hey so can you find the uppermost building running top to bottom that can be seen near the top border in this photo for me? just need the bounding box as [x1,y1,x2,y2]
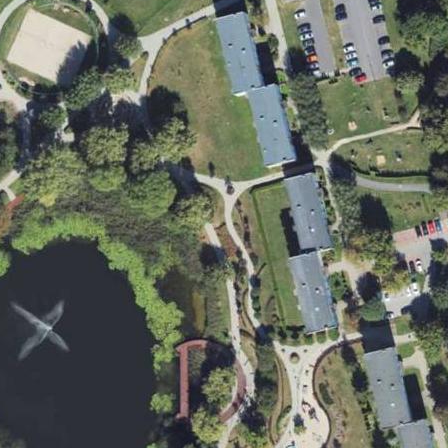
[216,13,263,96]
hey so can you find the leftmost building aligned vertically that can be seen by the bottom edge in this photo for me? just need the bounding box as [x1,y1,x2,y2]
[364,348,413,428]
